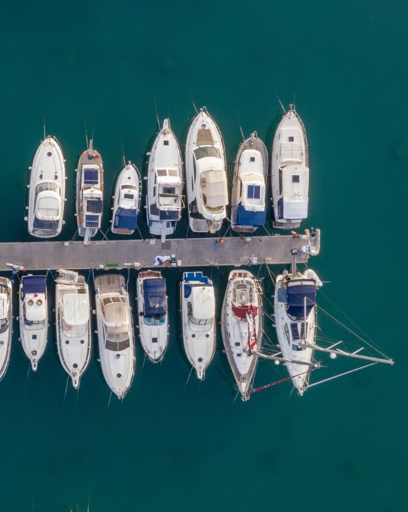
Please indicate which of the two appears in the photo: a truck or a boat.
boat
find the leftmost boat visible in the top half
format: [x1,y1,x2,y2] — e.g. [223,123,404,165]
[28,134,67,238]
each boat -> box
[183,106,228,233]
[301,264,327,296]
[110,160,142,234]
[267,106,310,228]
[178,272,217,381]
[57,269,82,286]
[219,272,340,403]
[227,130,271,231]
[135,270,170,366]
[28,134,67,238]
[0,279,12,380]
[19,275,48,372]
[54,278,92,390]
[143,118,183,242]
[272,254,397,398]
[92,275,135,403]
[74,140,105,245]
[306,228,321,257]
